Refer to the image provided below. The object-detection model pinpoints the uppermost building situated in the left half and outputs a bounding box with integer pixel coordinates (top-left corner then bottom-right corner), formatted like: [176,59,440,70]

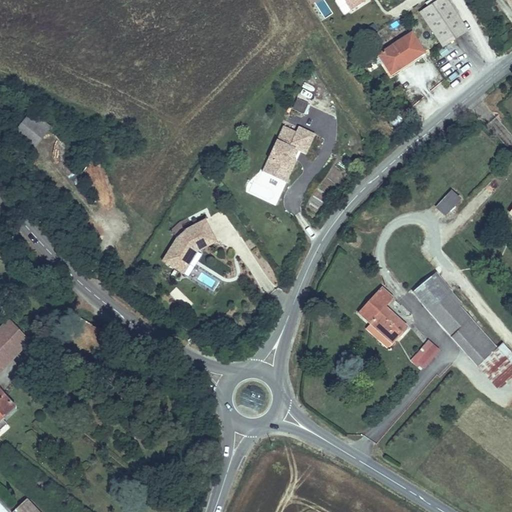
[19,112,52,148]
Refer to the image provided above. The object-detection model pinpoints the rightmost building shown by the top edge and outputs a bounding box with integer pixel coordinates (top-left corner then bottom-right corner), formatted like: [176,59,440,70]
[420,0,468,48]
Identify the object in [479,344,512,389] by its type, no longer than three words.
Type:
building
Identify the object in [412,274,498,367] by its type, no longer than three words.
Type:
barn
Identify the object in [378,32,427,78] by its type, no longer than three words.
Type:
house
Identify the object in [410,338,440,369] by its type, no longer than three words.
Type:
shed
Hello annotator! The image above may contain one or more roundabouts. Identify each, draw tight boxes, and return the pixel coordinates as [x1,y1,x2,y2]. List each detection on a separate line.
[208,350,300,449]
